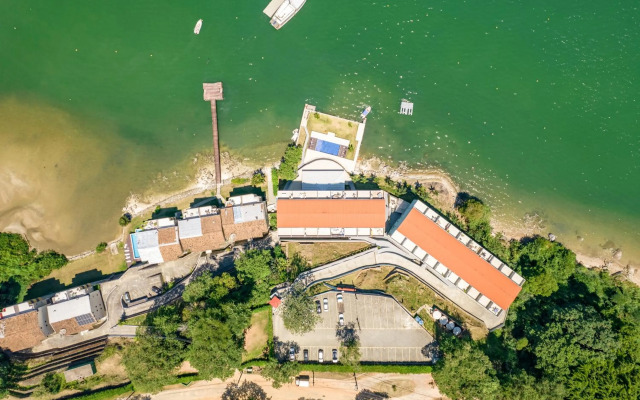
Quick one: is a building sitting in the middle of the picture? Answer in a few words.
Yes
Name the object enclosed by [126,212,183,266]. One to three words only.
house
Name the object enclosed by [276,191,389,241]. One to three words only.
building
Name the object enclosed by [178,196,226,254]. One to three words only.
house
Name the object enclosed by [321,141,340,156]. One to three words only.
swimming pool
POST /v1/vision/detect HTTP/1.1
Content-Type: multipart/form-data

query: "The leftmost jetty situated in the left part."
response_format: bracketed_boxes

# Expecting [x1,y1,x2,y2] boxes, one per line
[203,82,223,171]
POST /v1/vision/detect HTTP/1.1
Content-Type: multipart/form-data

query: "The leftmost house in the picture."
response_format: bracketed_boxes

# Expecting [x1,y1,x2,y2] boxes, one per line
[0,292,64,350]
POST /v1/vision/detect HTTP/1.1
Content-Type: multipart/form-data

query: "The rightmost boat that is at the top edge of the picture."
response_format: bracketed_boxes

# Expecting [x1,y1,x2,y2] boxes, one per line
[268,0,301,31]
